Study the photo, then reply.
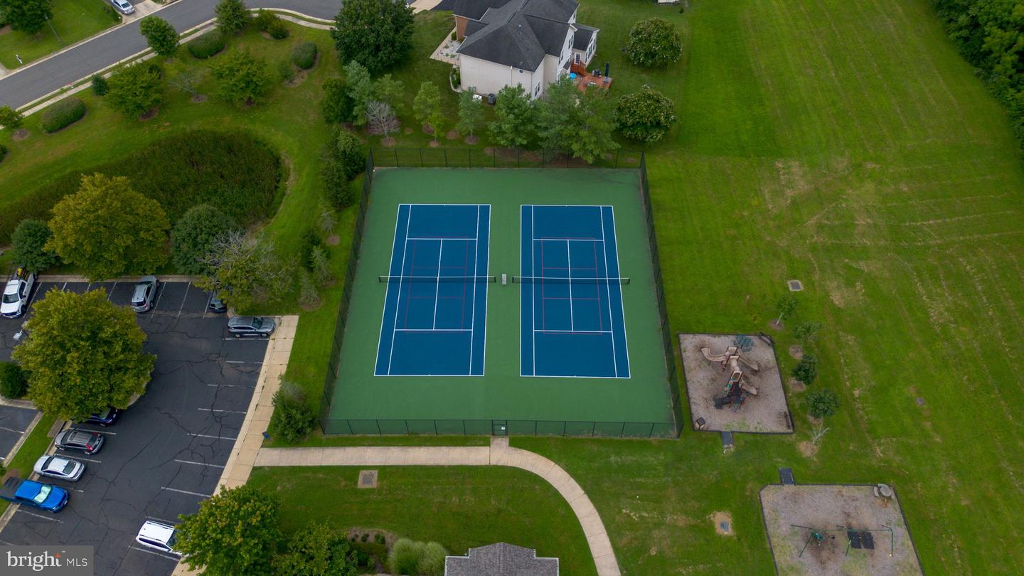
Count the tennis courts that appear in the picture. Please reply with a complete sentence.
The picture shows 2 tennis courts.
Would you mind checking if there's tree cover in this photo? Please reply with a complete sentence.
Yes, tree cover shows up in the scene.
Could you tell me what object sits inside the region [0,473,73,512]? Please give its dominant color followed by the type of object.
blue vehicle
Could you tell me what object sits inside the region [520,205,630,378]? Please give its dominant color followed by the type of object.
blue tennis court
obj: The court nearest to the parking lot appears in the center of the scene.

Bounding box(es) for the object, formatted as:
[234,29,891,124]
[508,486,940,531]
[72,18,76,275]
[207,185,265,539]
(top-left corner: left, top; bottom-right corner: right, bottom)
[374,204,490,376]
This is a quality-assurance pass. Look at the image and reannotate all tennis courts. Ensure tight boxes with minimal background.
[374,204,490,376]
[520,205,630,378]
